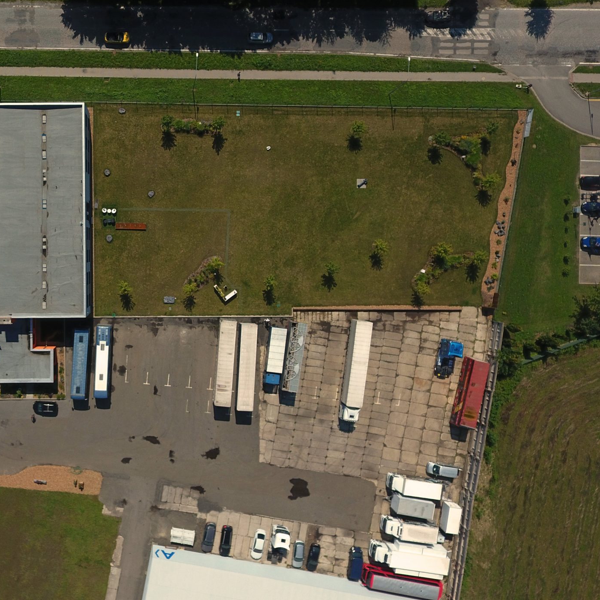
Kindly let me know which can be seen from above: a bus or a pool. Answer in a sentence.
There is a bus in the scene.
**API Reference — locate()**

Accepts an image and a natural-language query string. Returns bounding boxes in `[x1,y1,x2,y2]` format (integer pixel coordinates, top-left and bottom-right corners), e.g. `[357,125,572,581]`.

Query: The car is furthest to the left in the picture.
[34,401,58,414]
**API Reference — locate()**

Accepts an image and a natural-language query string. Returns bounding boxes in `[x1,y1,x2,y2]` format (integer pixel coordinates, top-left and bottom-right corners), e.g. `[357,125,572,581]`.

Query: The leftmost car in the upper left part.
[105,30,131,44]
